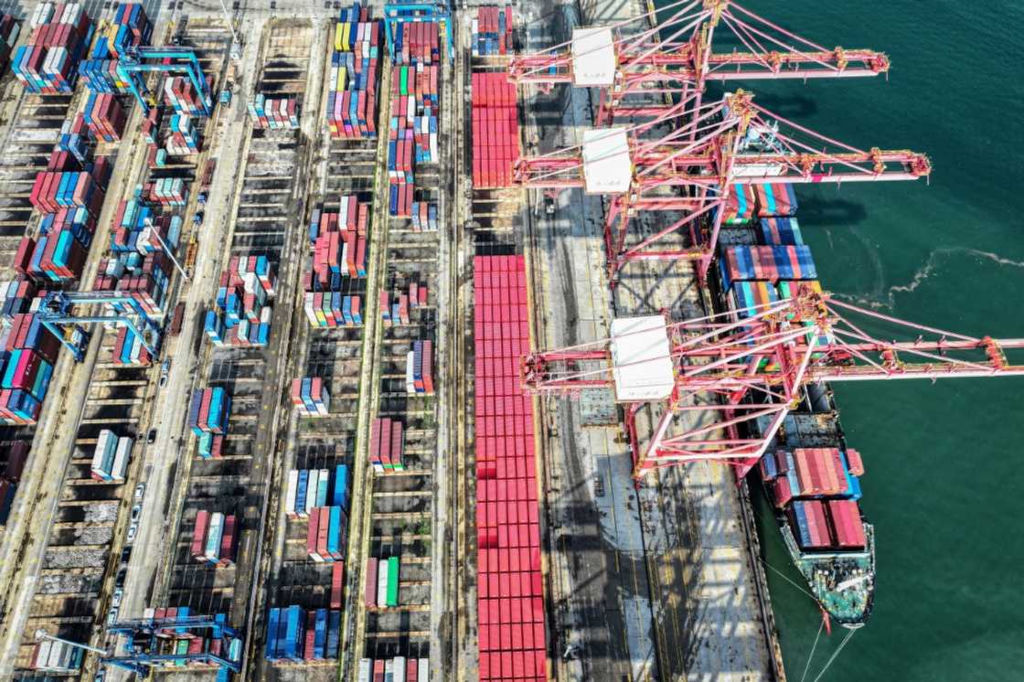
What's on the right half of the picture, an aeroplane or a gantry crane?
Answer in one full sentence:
The one visible on the right half of the picture is a gantry crane.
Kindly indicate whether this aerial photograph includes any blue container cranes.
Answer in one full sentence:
Yes, looking at the shot, I can spot a blue container crane.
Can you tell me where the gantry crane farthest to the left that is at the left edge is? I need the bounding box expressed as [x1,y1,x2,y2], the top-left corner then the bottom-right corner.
[33,288,163,364]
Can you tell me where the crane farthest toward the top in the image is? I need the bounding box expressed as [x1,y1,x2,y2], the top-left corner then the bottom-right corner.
[385,0,454,67]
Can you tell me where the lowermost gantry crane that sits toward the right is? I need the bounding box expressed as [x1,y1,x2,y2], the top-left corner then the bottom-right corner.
[530,290,1024,503]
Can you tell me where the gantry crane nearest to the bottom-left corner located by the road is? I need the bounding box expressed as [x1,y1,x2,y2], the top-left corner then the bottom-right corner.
[96,621,245,681]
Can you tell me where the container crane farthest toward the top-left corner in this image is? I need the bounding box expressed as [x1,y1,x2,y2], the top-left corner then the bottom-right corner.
[116,44,215,118]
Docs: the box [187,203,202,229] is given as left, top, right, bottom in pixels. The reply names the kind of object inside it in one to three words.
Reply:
vehicle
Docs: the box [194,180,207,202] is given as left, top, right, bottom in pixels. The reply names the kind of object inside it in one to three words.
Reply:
vehicle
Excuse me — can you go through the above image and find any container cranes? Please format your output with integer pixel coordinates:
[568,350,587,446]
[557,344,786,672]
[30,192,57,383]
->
[385,0,454,67]
[33,288,163,364]
[96,621,245,681]
[503,0,897,193]
[530,290,1024,503]
[508,94,940,299]
[116,44,215,118]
